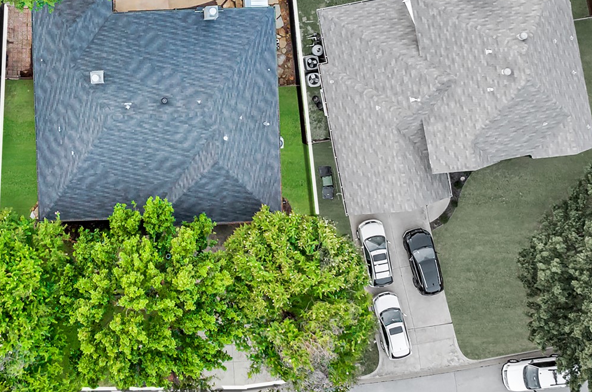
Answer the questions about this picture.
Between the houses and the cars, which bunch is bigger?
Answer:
cars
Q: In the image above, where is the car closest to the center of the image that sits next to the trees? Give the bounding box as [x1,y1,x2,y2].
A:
[355,220,393,287]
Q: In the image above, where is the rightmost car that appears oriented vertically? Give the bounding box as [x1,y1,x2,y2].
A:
[402,227,443,297]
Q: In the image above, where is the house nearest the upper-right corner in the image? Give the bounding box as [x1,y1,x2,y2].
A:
[316,0,592,215]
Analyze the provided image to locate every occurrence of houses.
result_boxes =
[33,0,284,221]
[316,0,592,215]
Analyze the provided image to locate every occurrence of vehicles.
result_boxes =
[371,291,410,359]
[500,355,577,392]
[355,220,393,287]
[402,227,443,297]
